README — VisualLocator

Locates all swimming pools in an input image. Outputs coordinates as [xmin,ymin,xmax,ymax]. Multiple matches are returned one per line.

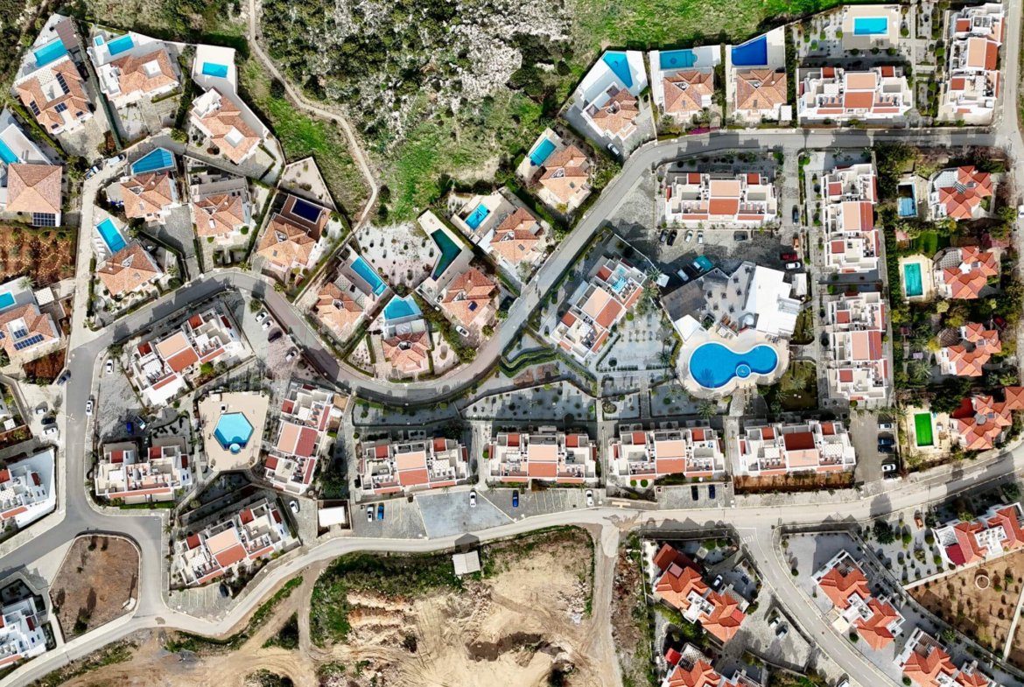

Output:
[416,211,474,303]
[192,44,239,94]
[336,244,391,301]
[734,362,752,379]
[724,24,785,102]
[0,124,52,166]
[649,45,721,105]
[899,254,932,301]
[129,145,179,176]
[198,390,269,471]
[677,328,789,399]
[280,195,332,242]
[840,4,898,51]
[577,50,648,102]
[0,277,37,314]
[451,188,516,245]
[896,179,930,221]
[88,31,168,69]
[517,131,567,186]
[93,207,138,262]
[901,405,949,456]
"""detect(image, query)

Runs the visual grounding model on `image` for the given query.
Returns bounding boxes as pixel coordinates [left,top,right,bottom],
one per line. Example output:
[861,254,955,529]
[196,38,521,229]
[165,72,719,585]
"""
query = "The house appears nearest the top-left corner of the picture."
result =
[13,52,101,138]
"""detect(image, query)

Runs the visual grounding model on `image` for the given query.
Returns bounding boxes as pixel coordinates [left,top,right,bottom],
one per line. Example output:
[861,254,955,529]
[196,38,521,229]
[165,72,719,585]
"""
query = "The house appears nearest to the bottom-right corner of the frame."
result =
[901,613,996,687]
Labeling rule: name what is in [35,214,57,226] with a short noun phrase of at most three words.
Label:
solar panel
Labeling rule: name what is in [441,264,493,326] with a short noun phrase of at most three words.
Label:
house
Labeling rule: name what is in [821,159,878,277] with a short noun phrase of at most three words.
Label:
building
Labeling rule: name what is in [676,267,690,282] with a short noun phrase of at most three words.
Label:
car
